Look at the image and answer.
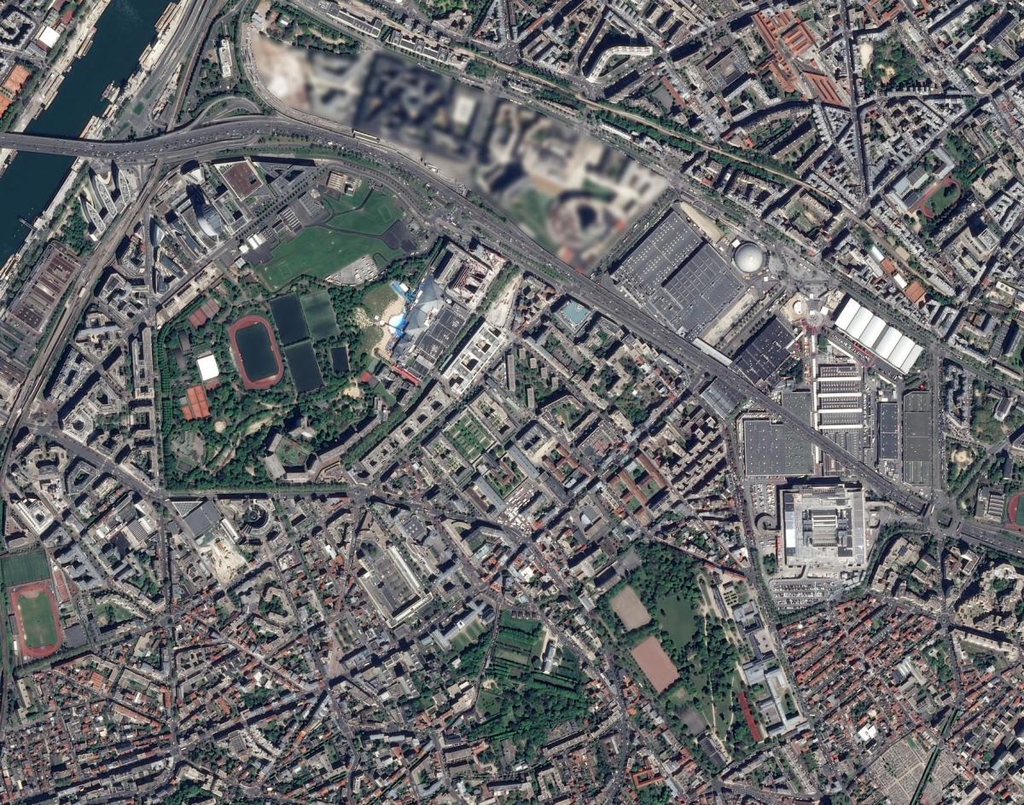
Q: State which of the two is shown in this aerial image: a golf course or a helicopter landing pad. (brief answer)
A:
helicopter landing pad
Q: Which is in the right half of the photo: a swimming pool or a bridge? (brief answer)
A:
bridge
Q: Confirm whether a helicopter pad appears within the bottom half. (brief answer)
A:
No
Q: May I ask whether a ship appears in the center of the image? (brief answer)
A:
No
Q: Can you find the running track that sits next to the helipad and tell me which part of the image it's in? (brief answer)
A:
left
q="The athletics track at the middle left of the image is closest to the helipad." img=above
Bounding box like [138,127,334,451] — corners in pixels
[228,315,283,389]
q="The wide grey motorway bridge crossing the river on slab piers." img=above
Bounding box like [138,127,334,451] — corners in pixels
[0,130,139,157]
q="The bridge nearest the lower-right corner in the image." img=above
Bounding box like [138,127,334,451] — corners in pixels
[706,358,925,513]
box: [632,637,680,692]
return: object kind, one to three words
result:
sports field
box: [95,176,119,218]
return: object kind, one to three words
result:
building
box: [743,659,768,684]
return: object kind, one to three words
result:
building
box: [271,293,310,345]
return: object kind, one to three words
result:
soccer field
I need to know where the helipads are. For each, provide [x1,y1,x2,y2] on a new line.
[244,176,412,293]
